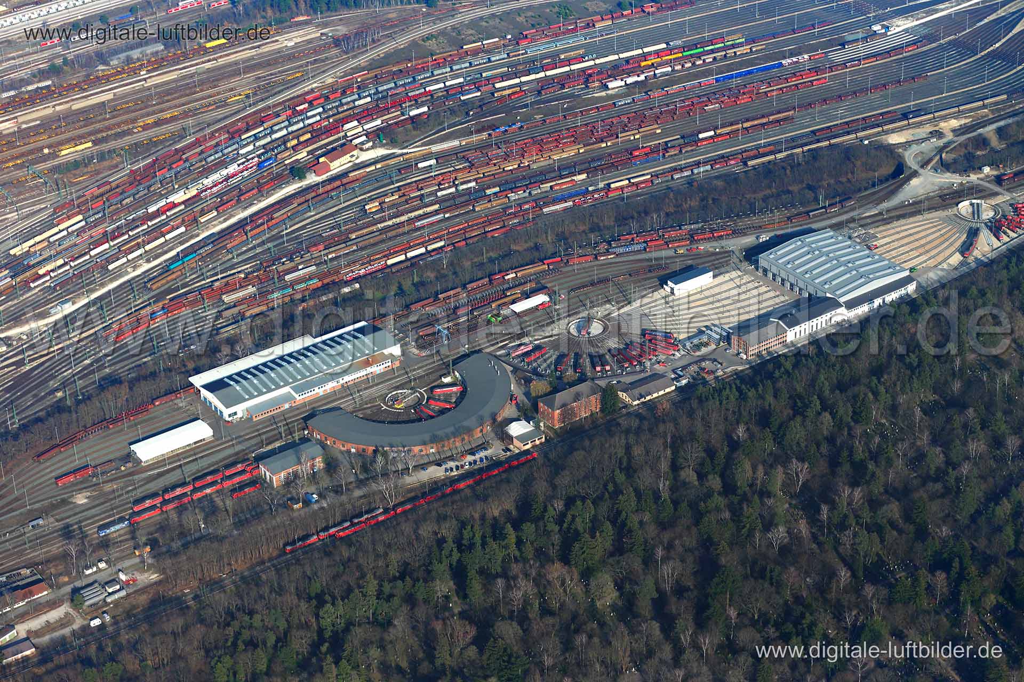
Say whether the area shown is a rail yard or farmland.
rail yard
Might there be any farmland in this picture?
No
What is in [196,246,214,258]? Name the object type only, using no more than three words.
rail car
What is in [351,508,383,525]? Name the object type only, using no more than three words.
rail car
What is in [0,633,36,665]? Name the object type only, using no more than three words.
house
